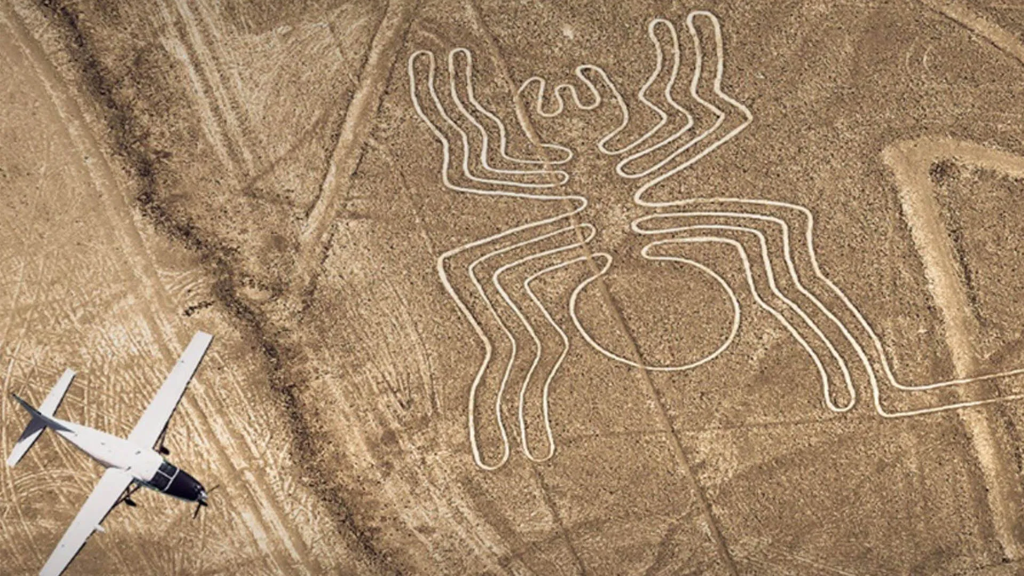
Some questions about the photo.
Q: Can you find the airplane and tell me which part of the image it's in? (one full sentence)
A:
The airplane appears toward the bottom left of the photo.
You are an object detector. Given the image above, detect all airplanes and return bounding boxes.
[4,329,216,576]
